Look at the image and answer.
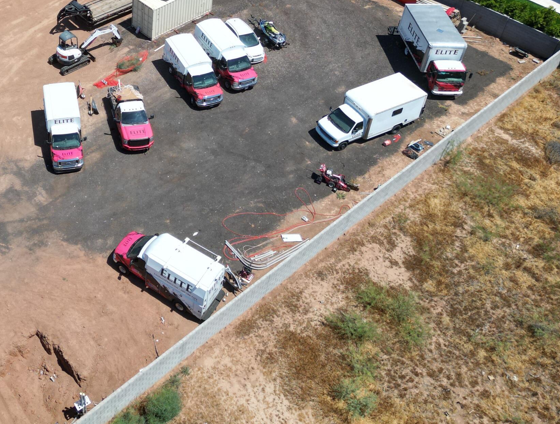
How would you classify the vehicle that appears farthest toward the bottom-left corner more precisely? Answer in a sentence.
In the photo, the vehicle that appears farthest toward the bottom-left corner shows up as a truck.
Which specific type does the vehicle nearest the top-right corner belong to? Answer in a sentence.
It turns out the vehicle nearest the top-right corner is a truck.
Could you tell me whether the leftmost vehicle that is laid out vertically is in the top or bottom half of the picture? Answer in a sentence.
Seen from above, the leftmost vehicle that is laid out vertically lies in the top half of the view.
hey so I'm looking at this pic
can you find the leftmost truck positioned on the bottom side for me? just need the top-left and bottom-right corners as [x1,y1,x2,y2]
[111,229,228,321]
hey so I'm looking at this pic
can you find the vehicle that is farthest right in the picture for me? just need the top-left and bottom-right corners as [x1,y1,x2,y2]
[397,4,475,97]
